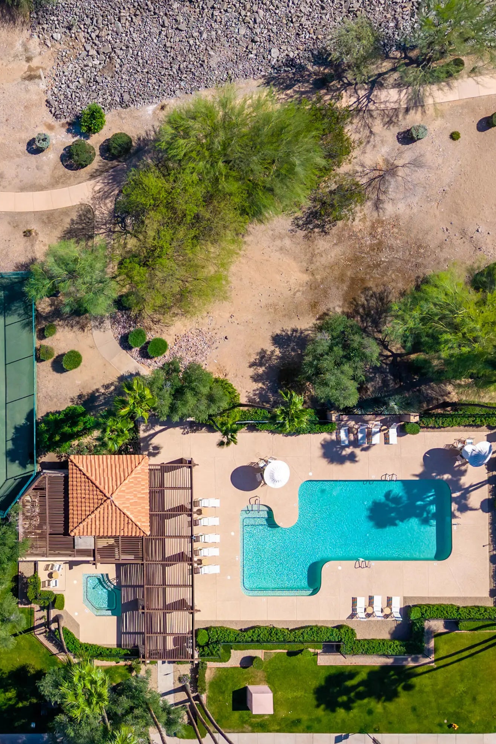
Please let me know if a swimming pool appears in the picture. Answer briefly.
Yes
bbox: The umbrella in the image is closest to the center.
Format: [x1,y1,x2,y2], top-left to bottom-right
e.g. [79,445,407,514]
[261,458,291,489]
